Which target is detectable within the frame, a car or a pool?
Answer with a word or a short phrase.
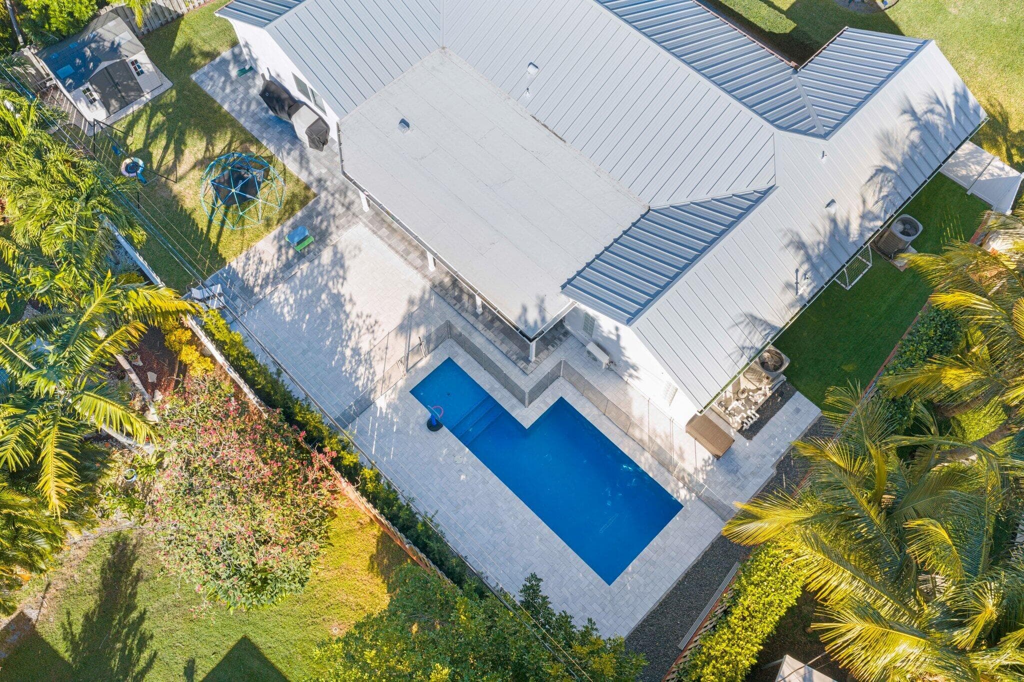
pool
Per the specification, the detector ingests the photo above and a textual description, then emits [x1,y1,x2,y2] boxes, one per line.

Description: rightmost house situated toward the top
[215,0,990,431]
